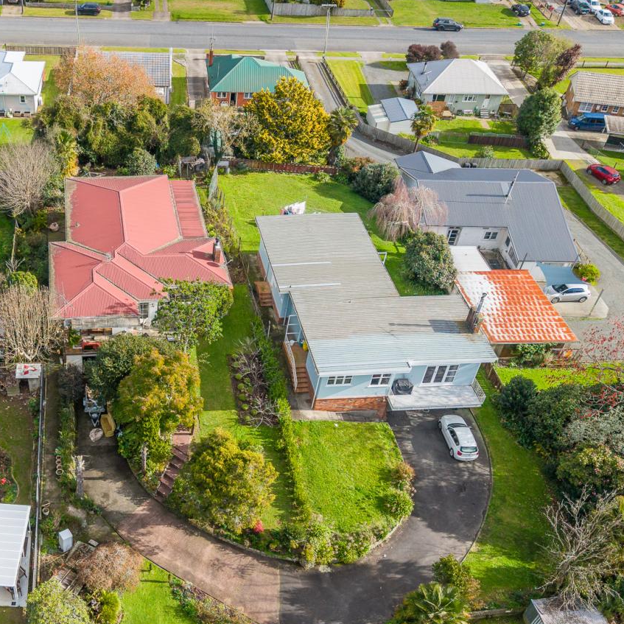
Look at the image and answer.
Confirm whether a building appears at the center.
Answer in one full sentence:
Yes, a building can be seen at the center.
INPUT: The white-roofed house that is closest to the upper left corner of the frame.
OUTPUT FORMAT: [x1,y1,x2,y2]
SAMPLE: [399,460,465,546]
[0,52,46,113]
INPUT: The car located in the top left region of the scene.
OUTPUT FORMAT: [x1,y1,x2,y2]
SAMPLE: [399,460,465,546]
[75,3,104,17]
